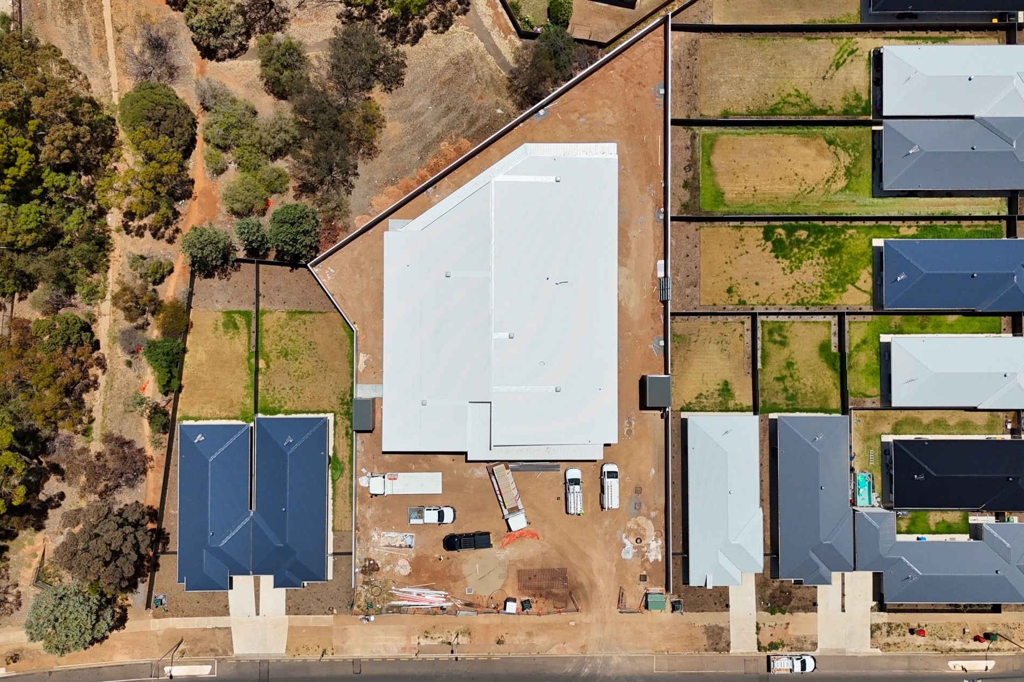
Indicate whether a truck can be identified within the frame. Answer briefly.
Yes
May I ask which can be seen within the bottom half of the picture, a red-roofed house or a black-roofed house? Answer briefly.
black-roofed house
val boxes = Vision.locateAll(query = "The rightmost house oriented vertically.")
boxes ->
[776,415,854,586]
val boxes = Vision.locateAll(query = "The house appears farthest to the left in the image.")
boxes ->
[178,424,252,592]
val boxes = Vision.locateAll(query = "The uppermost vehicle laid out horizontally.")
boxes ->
[368,472,442,498]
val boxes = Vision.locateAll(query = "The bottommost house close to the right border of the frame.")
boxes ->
[854,511,1024,604]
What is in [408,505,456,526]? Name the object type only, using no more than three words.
truck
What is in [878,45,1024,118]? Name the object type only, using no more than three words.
house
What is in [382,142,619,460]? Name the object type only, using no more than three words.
building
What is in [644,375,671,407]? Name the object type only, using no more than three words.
shed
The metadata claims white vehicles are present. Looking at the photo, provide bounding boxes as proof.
[564,466,585,517]
[408,505,456,526]
[600,463,622,514]
[766,652,816,676]
[486,462,530,536]
[368,472,442,498]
